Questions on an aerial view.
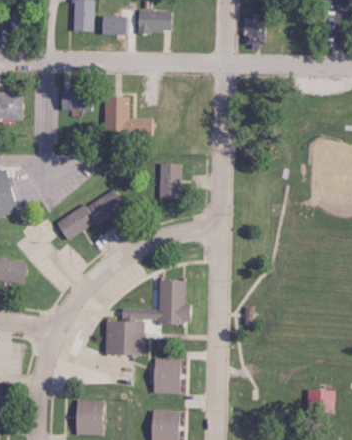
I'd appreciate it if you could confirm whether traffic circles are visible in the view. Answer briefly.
No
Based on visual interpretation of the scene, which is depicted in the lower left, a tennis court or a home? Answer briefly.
home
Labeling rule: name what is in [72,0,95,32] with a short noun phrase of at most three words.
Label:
house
